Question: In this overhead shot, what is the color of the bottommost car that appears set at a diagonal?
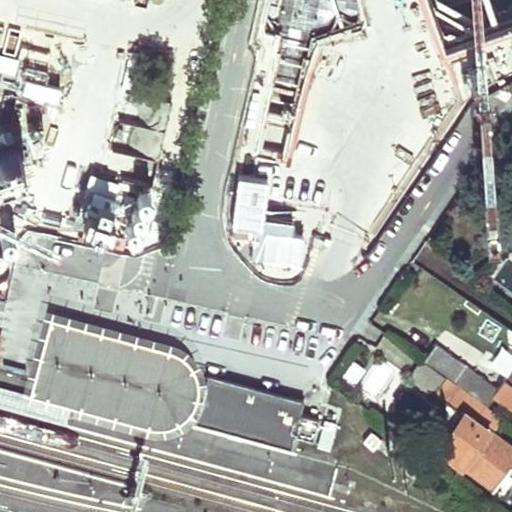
white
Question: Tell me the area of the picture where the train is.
bottom left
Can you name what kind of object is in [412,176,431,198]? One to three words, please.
car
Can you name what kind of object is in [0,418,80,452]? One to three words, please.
train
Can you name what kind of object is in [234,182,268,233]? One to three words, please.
building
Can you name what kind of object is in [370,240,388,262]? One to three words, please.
vehicle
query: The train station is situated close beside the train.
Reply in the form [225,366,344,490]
[23,312,209,442]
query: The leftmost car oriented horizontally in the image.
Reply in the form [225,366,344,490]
[52,244,76,256]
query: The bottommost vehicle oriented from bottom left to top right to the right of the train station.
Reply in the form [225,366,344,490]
[318,346,337,367]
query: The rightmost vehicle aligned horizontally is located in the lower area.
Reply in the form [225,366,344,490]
[320,326,343,338]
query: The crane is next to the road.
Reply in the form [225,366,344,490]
[464,0,501,258]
